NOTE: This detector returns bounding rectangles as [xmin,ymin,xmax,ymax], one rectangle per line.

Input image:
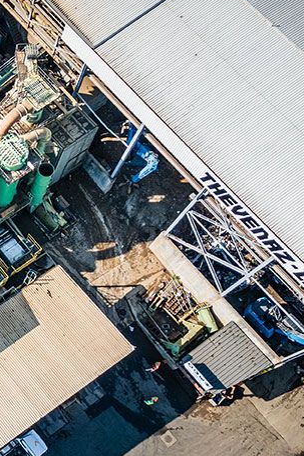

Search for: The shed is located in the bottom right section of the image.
[176,322,274,393]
